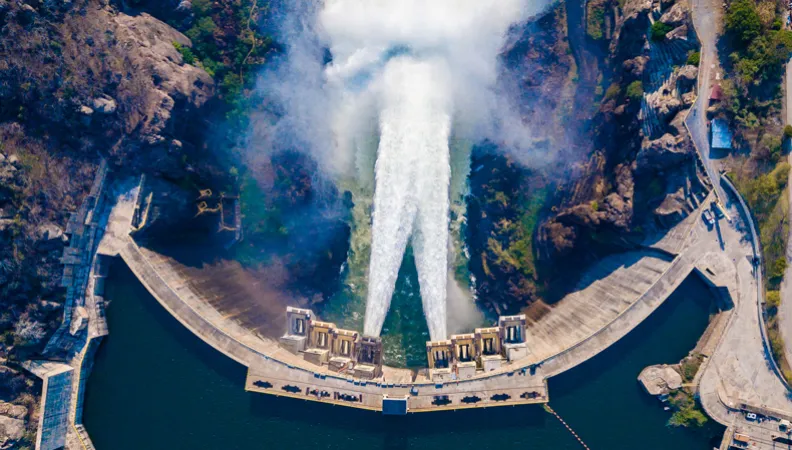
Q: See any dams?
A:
Yes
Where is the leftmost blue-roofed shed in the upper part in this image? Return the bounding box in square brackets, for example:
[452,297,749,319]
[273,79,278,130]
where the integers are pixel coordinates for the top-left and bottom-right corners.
[708,118,736,148]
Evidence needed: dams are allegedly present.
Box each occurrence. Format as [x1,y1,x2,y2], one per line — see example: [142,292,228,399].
[104,197,712,414]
